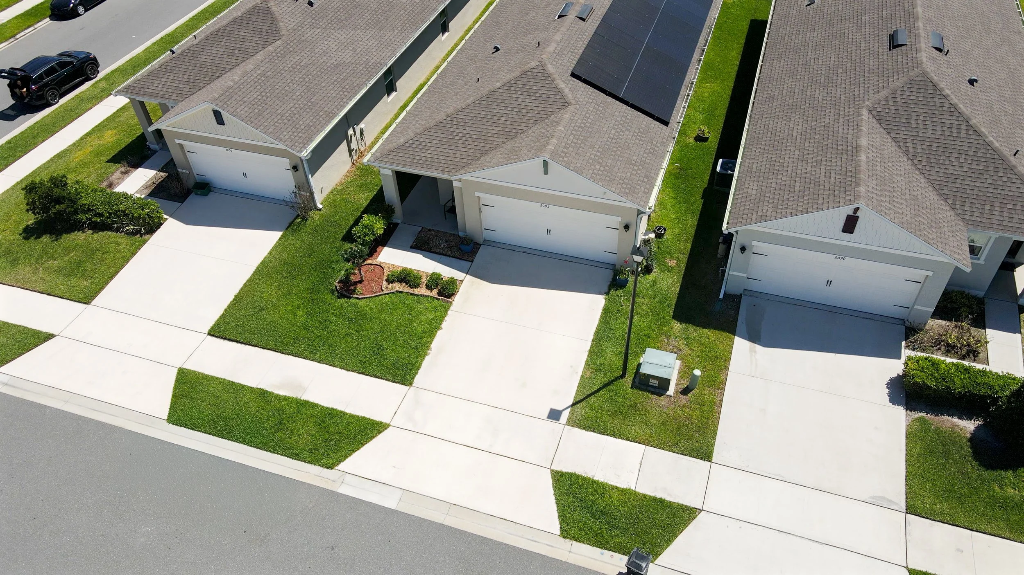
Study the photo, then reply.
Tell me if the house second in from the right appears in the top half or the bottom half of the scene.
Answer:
top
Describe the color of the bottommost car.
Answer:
black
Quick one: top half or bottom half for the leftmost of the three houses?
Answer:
top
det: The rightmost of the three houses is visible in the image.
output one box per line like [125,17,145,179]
[718,0,1024,328]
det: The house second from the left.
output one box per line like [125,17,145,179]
[359,0,719,277]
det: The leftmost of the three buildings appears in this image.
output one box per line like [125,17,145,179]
[111,0,475,216]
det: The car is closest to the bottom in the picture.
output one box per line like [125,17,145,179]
[0,46,100,105]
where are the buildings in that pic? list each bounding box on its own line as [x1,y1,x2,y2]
[359,0,719,277]
[718,0,1024,328]
[111,0,475,216]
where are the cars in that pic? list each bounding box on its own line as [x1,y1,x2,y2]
[0,46,100,105]
[45,0,97,15]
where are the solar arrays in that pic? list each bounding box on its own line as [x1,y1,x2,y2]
[573,0,715,131]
